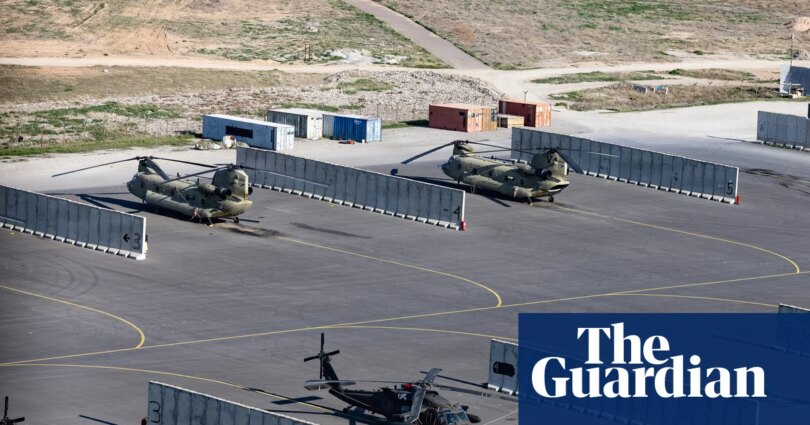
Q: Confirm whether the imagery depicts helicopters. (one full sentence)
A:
Yes, a helicopter is visible in the scene.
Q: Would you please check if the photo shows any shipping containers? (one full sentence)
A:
Yes, a shipping container is visible in the scene.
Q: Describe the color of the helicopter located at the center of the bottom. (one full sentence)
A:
The helicopter located at the center of the bottom looks black in the image.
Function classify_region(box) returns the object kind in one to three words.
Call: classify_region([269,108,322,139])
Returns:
shipping container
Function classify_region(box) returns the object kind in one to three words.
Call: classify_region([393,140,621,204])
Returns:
helicopter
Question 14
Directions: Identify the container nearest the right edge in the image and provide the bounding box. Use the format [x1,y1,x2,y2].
[498,97,551,127]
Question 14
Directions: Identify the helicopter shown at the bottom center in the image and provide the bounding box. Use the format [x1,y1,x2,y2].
[301,334,547,425]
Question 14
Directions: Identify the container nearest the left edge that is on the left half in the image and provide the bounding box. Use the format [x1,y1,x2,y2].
[203,112,293,150]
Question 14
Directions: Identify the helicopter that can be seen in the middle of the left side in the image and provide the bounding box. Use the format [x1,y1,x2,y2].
[52,157,330,224]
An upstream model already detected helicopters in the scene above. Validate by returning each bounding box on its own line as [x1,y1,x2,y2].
[52,157,330,224]
[0,394,24,425]
[301,334,547,425]
[393,140,621,204]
